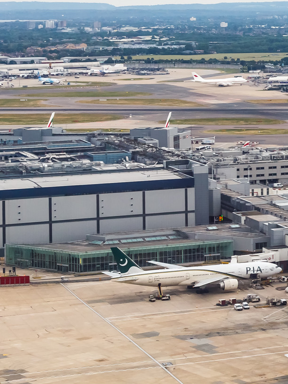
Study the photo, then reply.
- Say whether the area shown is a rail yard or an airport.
airport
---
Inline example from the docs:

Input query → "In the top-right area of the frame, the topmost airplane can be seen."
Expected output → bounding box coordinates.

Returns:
[190,70,247,85]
